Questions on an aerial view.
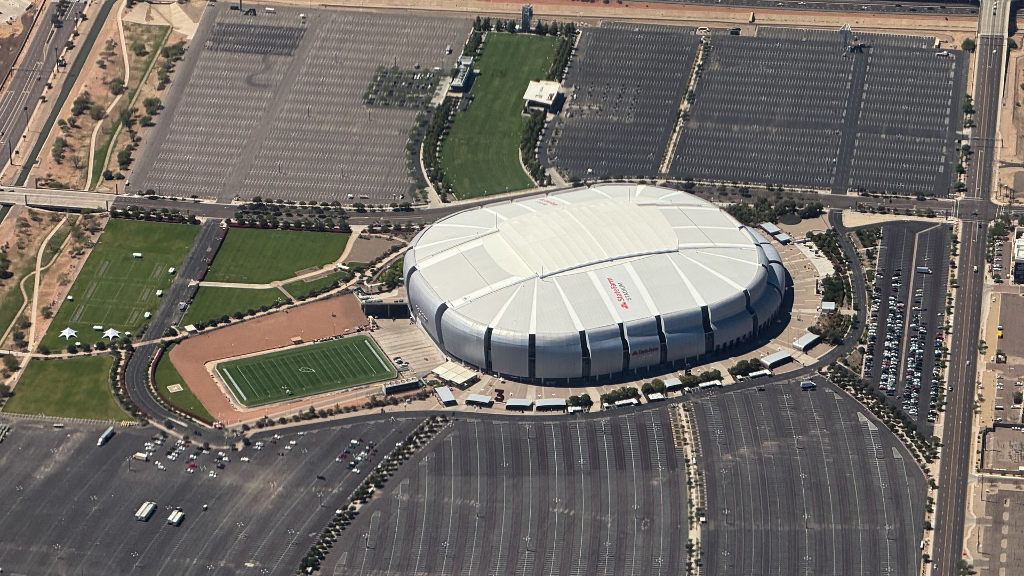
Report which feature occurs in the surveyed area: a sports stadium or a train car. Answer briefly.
sports stadium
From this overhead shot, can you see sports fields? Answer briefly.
Yes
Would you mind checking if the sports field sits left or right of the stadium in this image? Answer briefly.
on the left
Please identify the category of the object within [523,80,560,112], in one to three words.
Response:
building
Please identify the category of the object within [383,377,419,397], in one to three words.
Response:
building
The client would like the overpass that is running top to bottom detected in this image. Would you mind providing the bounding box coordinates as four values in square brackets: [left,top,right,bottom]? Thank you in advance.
[967,0,1017,133]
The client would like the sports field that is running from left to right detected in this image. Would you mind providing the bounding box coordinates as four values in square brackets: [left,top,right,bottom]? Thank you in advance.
[216,334,396,407]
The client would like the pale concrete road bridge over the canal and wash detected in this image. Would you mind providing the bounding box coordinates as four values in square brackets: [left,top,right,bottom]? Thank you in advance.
[0,178,118,211]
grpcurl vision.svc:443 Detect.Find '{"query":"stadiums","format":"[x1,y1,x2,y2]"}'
[403,183,784,382]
